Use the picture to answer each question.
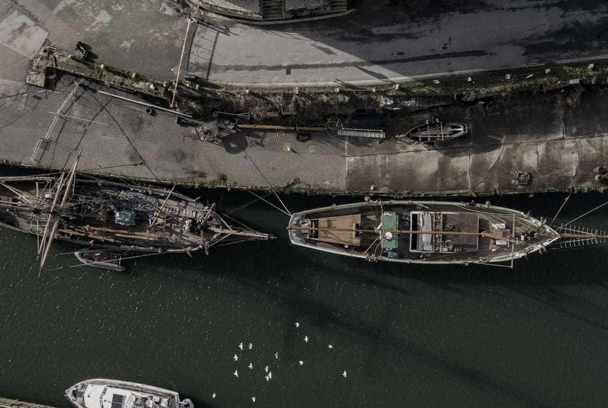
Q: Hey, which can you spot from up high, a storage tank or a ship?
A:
ship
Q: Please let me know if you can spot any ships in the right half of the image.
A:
Yes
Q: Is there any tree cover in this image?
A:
No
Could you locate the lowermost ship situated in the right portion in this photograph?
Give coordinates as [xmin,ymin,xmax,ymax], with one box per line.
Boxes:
[287,195,608,268]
